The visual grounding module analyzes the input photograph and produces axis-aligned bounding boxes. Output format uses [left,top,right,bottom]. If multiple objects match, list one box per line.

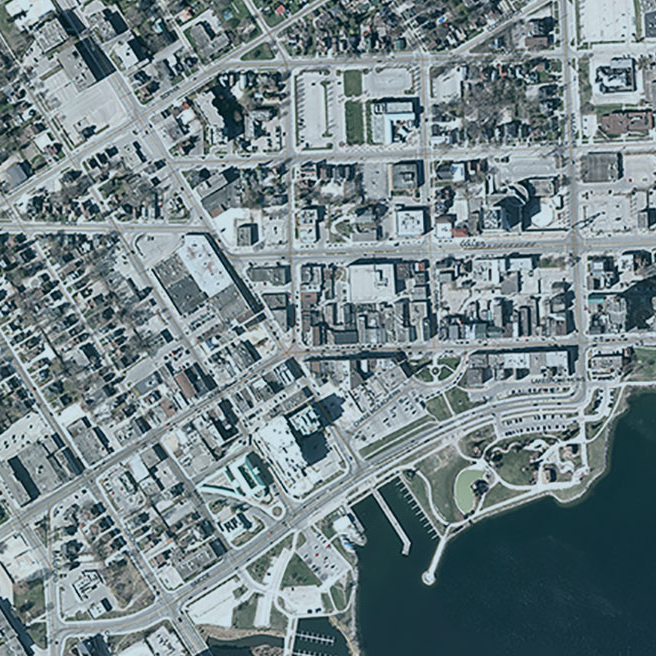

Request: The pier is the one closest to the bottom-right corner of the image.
[422,524,450,583]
